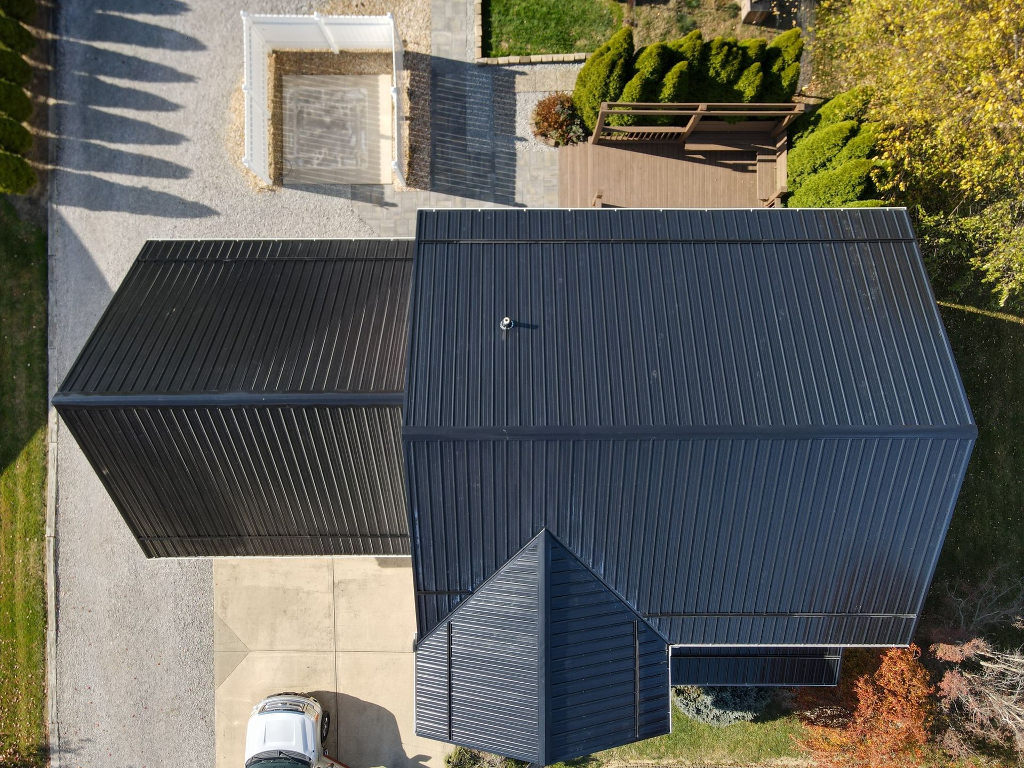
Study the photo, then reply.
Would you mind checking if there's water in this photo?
No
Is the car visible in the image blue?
No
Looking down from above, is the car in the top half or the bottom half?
bottom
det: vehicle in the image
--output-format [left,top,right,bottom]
[245,691,361,768]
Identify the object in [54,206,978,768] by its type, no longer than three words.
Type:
house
